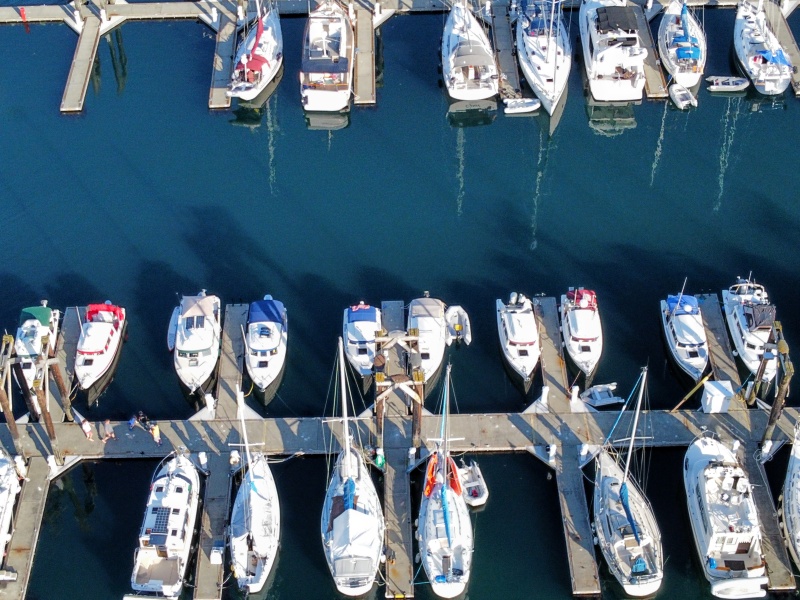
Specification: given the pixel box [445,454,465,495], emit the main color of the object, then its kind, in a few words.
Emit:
red boat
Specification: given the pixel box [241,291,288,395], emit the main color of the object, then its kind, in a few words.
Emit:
white boat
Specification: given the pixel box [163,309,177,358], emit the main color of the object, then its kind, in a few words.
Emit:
blue boat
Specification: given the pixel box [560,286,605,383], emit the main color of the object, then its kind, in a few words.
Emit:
white boat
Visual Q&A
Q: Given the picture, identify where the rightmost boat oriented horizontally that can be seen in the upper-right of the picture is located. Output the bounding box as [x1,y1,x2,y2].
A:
[705,77,750,92]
